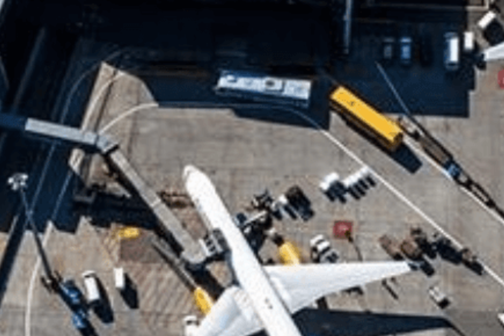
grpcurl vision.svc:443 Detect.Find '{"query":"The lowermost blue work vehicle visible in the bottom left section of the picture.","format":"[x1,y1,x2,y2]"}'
[71,312,95,336]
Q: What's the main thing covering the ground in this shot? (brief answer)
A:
paved ground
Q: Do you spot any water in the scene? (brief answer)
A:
No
